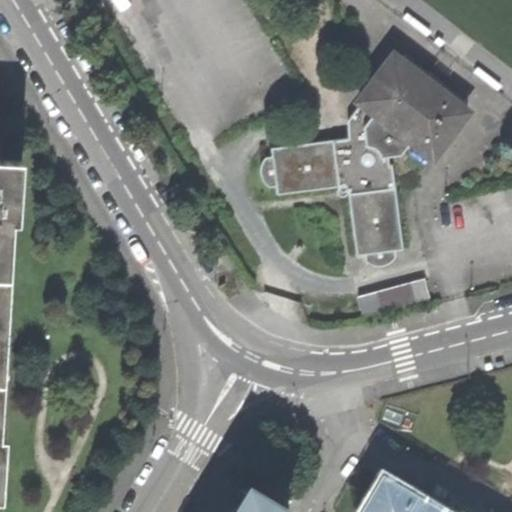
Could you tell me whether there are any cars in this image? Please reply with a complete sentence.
Yes, I can see a car in this picture.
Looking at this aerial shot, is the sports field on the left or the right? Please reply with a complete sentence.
The sports field appears in the right half of the scene.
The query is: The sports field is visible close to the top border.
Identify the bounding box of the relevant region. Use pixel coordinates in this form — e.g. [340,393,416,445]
[422,0,512,68]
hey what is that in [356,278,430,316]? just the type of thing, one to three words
building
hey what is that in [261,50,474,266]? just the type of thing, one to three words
building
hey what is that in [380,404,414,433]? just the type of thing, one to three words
shed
